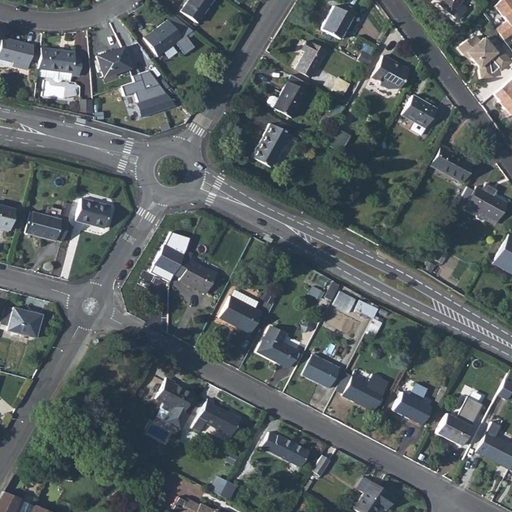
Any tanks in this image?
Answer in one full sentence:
No, no tank is visible in the view.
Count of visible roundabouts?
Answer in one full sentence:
The number of roundabouts here is 2.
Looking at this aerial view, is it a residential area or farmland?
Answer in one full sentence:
It's a residential area.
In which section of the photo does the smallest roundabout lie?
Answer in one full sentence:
The smallest roundabout is located in the left region of the scene.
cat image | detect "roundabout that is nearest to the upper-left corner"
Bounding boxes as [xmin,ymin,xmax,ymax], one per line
[131,128,218,214]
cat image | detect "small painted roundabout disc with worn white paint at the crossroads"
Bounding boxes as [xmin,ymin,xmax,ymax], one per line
[68,281,116,329]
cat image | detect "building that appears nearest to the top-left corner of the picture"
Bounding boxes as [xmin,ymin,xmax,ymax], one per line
[0,38,36,70]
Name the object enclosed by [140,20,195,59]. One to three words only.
house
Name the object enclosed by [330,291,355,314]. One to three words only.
building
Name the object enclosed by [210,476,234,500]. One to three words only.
building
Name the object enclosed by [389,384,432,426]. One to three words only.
house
